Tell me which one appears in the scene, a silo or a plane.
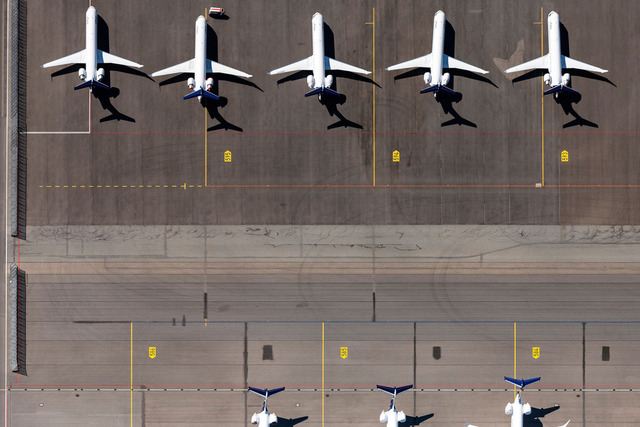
plane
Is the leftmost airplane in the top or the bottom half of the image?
top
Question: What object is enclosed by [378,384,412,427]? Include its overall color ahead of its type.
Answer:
white airplane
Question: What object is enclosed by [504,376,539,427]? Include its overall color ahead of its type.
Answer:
white airplane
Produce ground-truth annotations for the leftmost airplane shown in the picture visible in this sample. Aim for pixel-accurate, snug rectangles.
[41,6,142,93]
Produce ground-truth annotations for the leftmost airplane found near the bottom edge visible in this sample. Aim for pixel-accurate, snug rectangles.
[249,386,284,427]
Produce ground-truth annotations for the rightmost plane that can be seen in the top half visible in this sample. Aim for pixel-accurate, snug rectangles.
[506,10,607,96]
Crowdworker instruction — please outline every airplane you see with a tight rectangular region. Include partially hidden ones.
[41,6,142,93]
[249,386,284,427]
[149,15,251,101]
[504,376,539,427]
[269,12,370,98]
[378,384,412,427]
[506,10,607,96]
[386,10,488,96]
